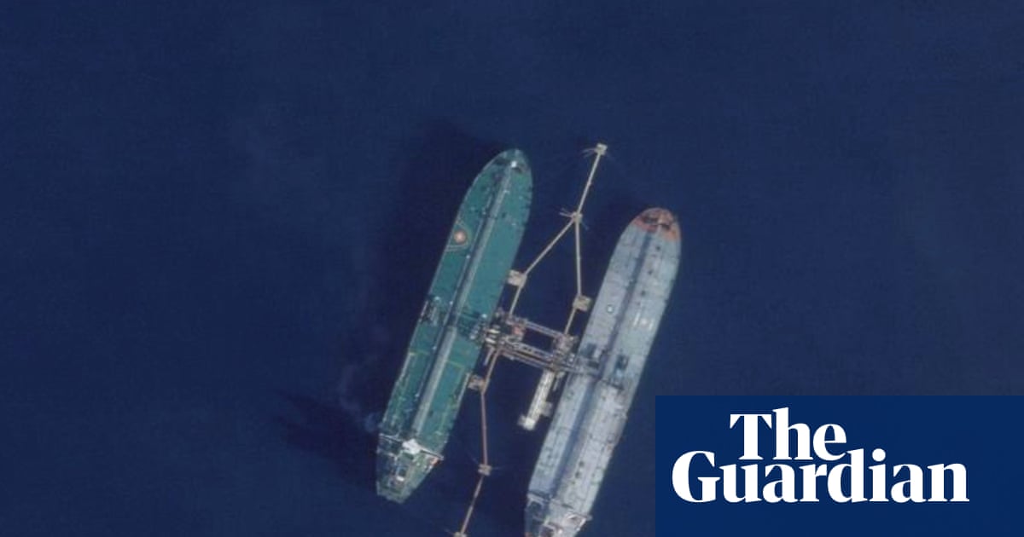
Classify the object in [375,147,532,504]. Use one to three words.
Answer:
ship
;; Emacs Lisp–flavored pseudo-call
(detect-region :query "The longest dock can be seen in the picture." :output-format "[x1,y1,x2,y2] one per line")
[519,368,554,426]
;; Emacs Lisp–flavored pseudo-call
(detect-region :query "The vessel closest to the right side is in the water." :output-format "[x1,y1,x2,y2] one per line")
[523,208,682,537]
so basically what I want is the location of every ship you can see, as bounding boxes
[375,147,532,504]
[523,208,682,537]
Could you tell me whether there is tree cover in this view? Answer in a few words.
No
